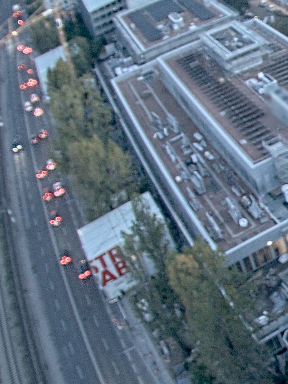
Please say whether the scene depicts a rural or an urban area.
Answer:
urban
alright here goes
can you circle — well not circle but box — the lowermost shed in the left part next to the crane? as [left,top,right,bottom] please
[36,45,62,102]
